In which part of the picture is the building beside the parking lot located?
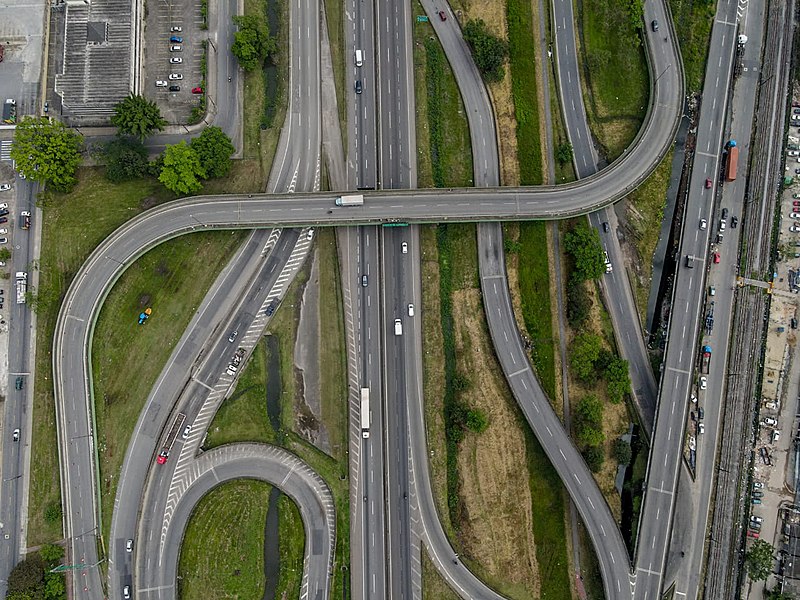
top left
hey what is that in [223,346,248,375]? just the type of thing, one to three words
truck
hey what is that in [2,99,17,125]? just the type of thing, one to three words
vehicle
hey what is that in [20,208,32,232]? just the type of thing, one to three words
vehicle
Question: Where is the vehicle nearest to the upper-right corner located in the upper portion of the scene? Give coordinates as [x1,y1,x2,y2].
[735,36,748,58]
